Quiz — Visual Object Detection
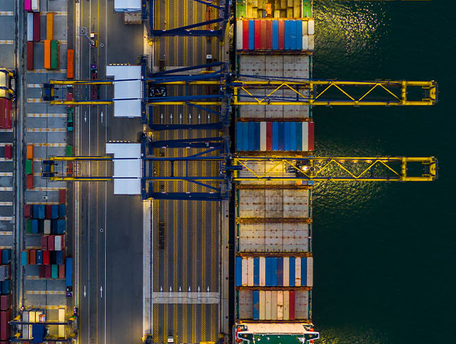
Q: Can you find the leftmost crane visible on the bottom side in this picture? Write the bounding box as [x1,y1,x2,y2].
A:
[7,306,80,344]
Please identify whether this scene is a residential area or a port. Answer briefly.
port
